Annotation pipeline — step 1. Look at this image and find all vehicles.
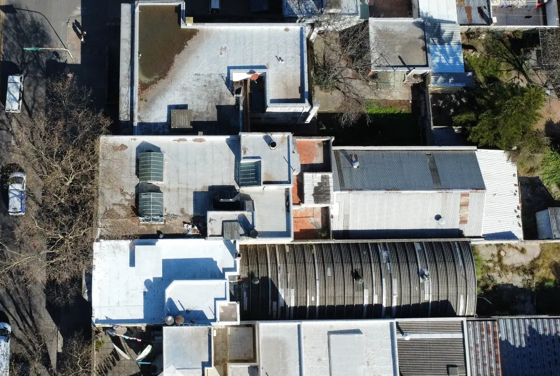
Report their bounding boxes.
[251,0,272,24]
[5,75,24,115]
[0,323,11,376]
[7,173,25,214]
[209,0,224,24]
